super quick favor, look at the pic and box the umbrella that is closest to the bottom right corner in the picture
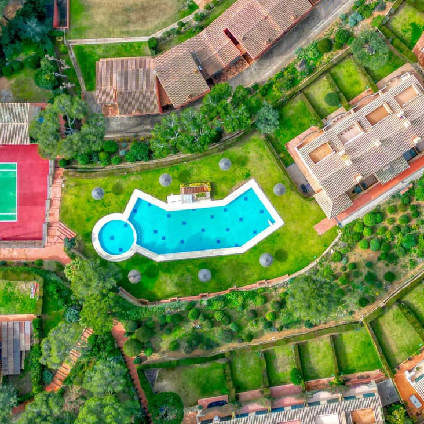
[260,253,273,266]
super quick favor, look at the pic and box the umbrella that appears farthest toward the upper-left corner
[91,187,105,200]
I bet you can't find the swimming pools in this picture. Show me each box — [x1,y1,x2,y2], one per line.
[123,178,284,262]
[91,213,137,262]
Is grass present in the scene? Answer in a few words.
Yes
